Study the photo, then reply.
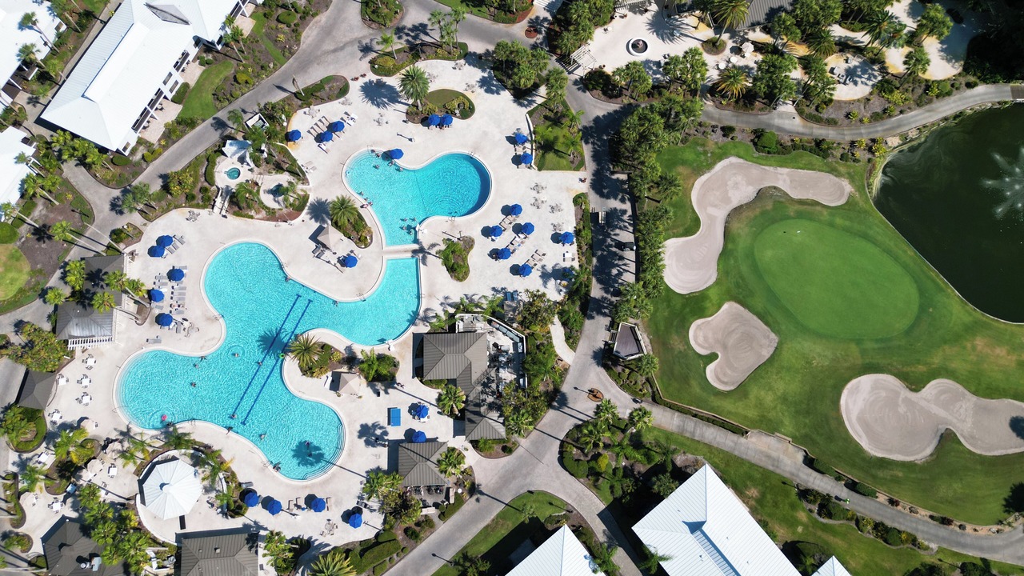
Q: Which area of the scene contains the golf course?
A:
right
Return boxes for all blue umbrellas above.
[560,232,574,245]
[169,268,182,281]
[157,313,172,326]
[348,512,363,528]
[331,120,344,133]
[150,289,164,302]
[510,204,522,216]
[415,404,429,418]
[521,222,535,236]
[497,247,510,260]
[519,263,533,277]
[412,429,427,443]
[311,497,326,512]
[288,129,301,142]
[158,234,172,248]
[520,153,532,165]
[244,491,259,507]
[267,499,282,515]
[344,255,358,268]
[489,225,503,238]
[428,114,441,126]
[150,245,164,258]
[390,148,403,161]
[320,131,333,144]
[441,114,454,127]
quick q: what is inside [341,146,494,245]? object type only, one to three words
swimming pool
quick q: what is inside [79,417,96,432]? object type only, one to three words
umbrella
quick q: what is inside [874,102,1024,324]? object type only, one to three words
pond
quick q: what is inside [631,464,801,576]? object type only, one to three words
building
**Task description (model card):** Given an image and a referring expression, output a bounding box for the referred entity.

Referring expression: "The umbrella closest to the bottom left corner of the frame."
[19,490,39,507]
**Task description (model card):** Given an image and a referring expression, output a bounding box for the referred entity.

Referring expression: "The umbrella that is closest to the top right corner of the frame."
[741,40,755,55]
